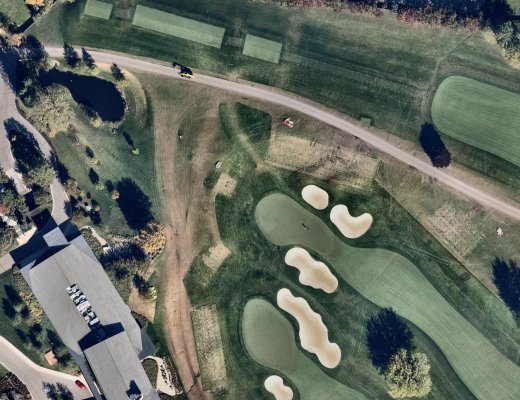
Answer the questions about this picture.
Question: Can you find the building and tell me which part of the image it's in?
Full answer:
The building appears toward the bottom left of the photo.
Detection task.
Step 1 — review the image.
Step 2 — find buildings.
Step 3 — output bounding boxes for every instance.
[20,227,162,400]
